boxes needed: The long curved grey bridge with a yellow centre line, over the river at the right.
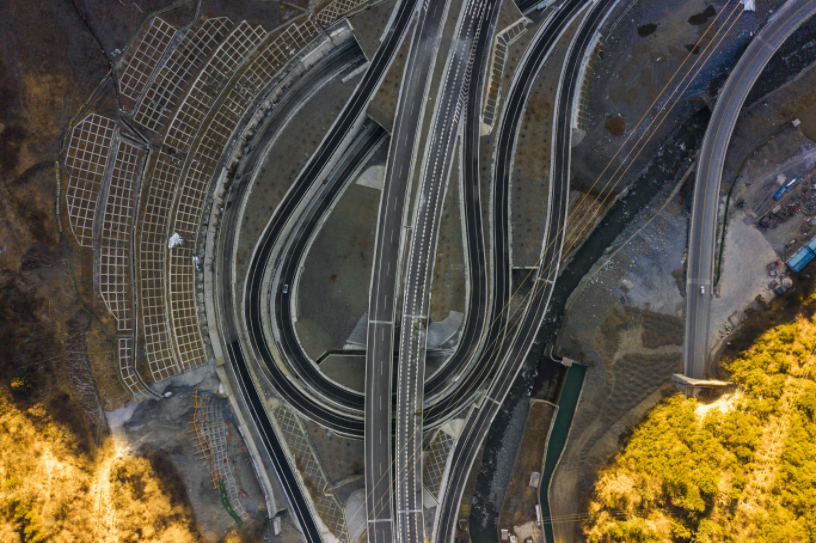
[682,0,816,383]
